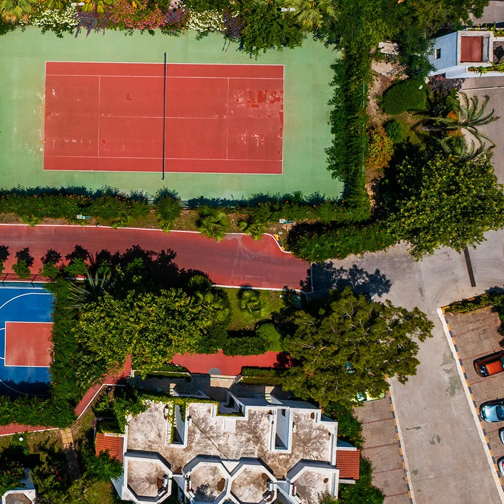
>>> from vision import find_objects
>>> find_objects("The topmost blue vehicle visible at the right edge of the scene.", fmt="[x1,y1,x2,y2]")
[482,403,504,425]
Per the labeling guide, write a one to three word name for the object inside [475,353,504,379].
car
